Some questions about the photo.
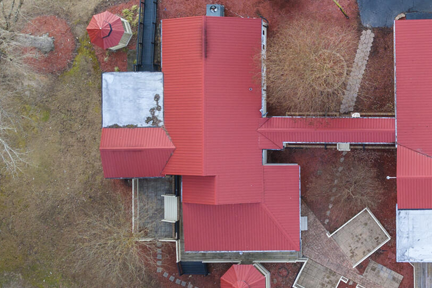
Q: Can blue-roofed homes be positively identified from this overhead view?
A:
No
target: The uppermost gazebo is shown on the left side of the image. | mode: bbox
[86,11,136,51]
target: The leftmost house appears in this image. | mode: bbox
[100,16,396,264]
